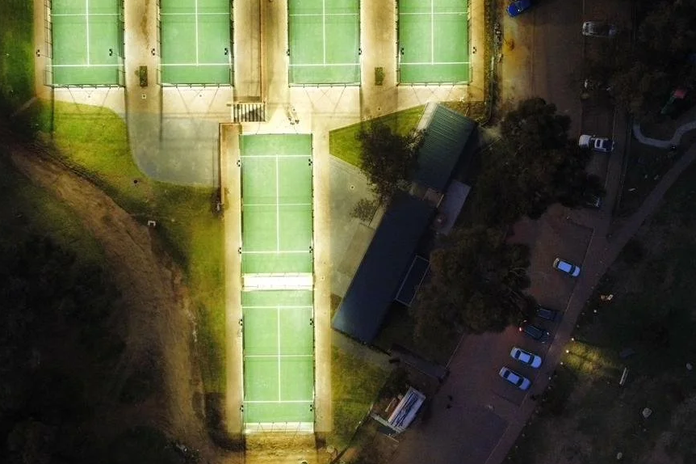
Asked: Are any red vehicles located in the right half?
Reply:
No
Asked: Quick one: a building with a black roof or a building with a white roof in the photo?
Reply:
building with a black roof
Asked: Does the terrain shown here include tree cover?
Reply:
Yes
